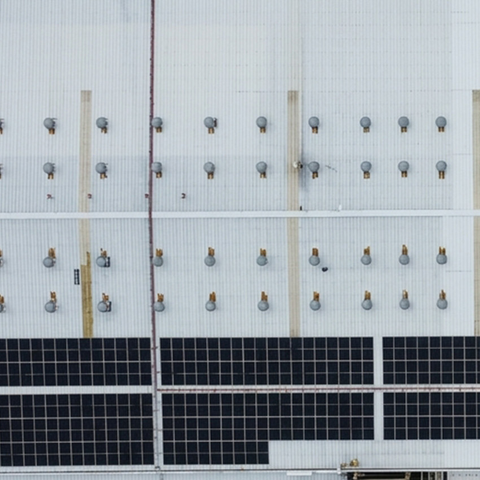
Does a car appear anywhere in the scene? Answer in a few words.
No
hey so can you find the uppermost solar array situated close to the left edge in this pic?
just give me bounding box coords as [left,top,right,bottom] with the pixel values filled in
[0,338,153,386]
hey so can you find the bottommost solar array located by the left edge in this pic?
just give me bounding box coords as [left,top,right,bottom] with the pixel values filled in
[0,393,155,466]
